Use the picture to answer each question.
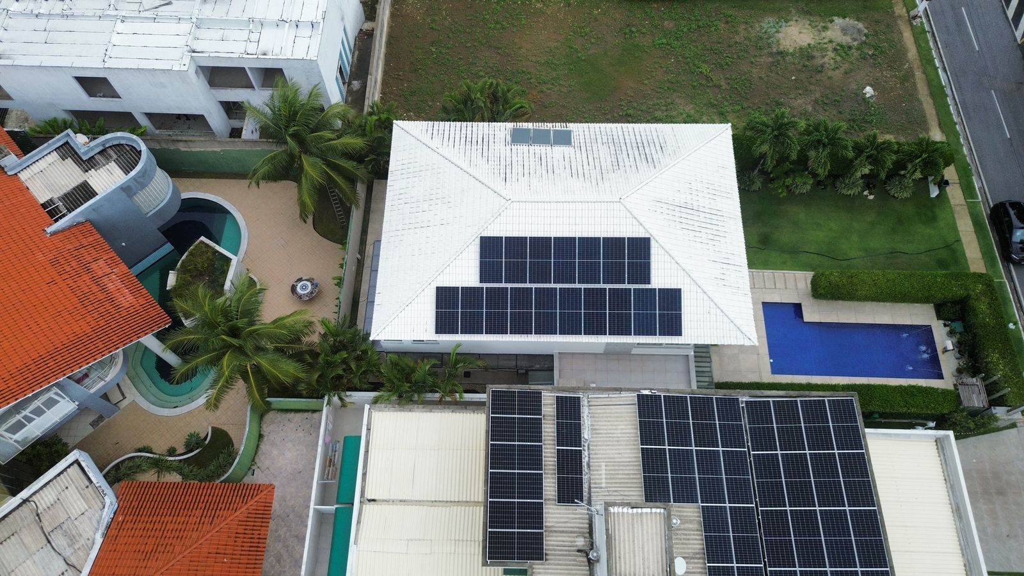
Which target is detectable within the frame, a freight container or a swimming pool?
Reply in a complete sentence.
Visible in the photo is a swimming pool.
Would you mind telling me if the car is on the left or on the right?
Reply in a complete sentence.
The car appears in the right half of the scene.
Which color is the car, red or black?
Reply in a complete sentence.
The car looks black in the image.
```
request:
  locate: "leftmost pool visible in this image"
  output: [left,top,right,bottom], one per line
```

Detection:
[135,195,240,408]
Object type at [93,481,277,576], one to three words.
house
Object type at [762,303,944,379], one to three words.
swimming pool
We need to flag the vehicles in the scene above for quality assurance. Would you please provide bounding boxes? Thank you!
[992,198,1024,269]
